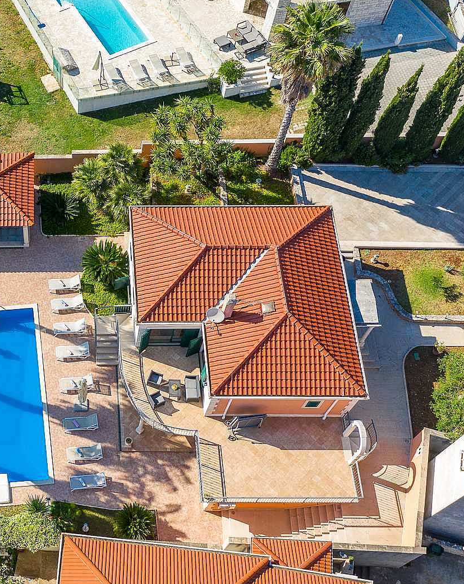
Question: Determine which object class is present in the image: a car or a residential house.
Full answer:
Visible in the photo is a residential house.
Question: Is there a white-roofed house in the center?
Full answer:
No, in the center there is no white-roofed house.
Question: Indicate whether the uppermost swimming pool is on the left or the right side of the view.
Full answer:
The uppermost swimming pool appears in the left half of the scene.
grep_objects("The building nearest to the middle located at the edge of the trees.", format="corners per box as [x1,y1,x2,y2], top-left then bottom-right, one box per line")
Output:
[120,203,382,421]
